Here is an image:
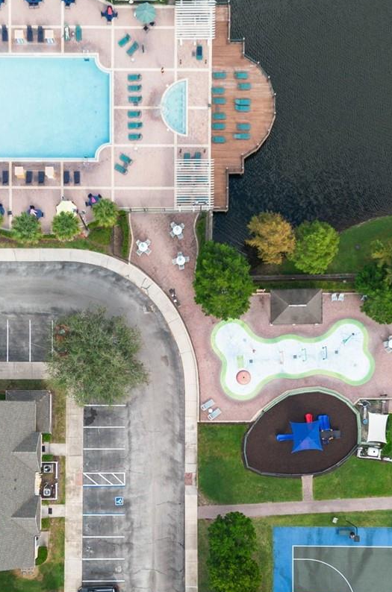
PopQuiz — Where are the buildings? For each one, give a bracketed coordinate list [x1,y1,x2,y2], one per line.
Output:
[0,389,55,573]
[270,289,322,327]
